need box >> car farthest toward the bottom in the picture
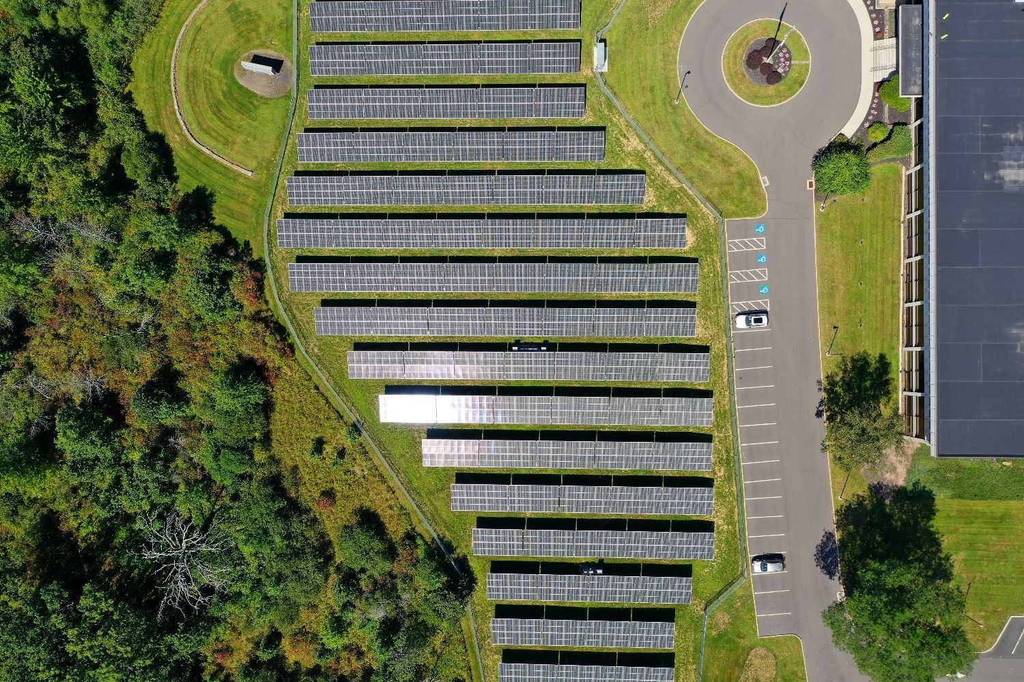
[750,558,783,574]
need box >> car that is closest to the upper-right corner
[734,313,768,328]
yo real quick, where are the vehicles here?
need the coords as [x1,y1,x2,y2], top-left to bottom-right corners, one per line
[750,558,783,574]
[734,313,768,328]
